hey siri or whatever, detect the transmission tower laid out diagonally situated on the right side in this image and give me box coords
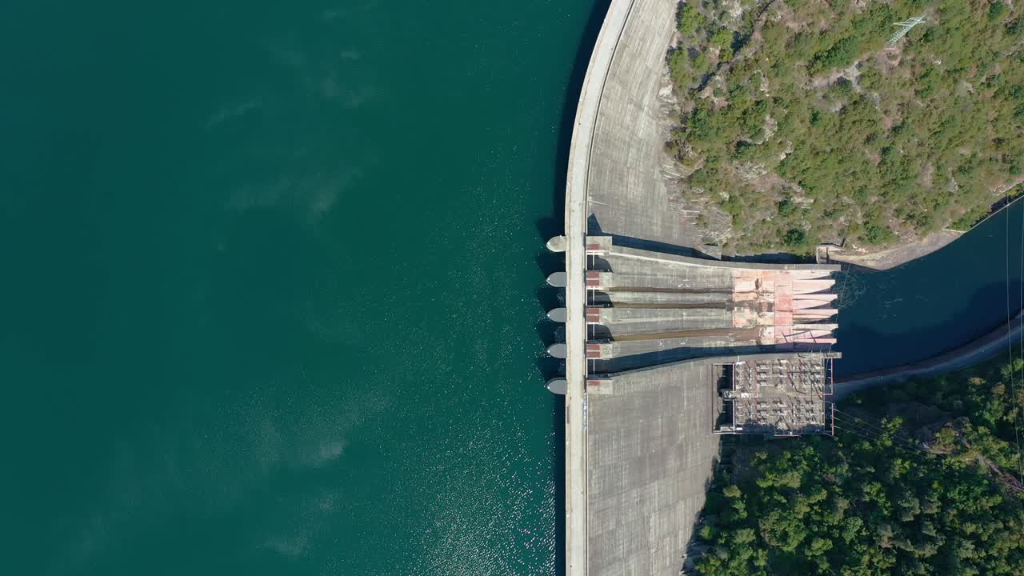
[882,16,930,52]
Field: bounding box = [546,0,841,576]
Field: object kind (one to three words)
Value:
dam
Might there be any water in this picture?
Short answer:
Yes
